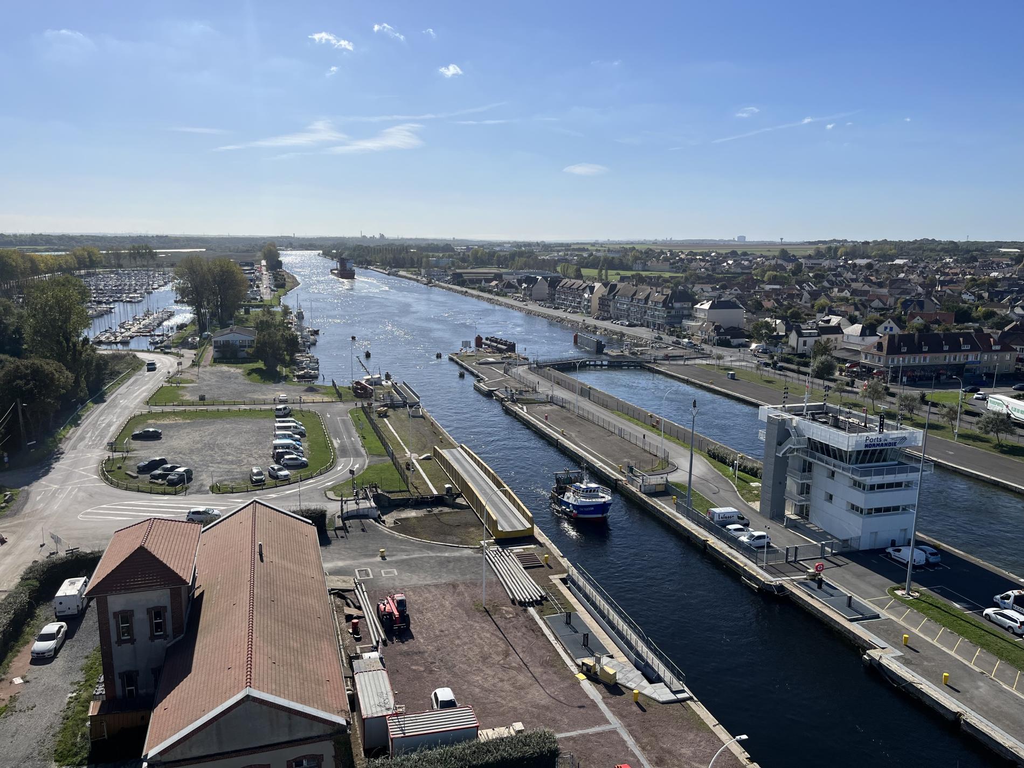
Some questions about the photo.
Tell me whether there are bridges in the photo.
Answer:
Yes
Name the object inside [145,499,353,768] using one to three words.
building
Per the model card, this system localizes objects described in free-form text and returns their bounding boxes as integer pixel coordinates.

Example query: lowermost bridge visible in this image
[431,444,539,538]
